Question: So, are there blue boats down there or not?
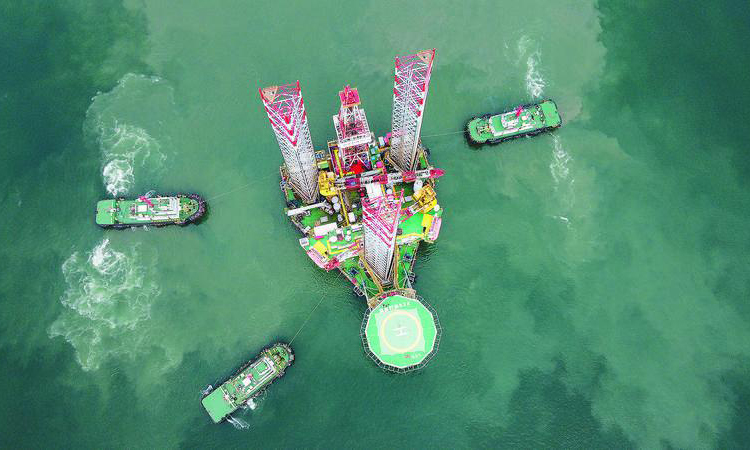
No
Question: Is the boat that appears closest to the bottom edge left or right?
left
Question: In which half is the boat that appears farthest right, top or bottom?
top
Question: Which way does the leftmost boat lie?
from left to right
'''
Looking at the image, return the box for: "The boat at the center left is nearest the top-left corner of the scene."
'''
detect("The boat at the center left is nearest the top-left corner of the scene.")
[95,191,204,229]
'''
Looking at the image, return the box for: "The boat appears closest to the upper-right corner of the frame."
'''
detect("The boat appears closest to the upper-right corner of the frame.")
[467,100,562,144]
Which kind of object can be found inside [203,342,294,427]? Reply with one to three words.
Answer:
boat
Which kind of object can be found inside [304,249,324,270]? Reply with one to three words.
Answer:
boat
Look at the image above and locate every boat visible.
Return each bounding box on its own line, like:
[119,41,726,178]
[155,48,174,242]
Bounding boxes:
[203,342,294,427]
[434,214,442,240]
[304,249,324,270]
[467,100,562,144]
[95,191,204,229]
